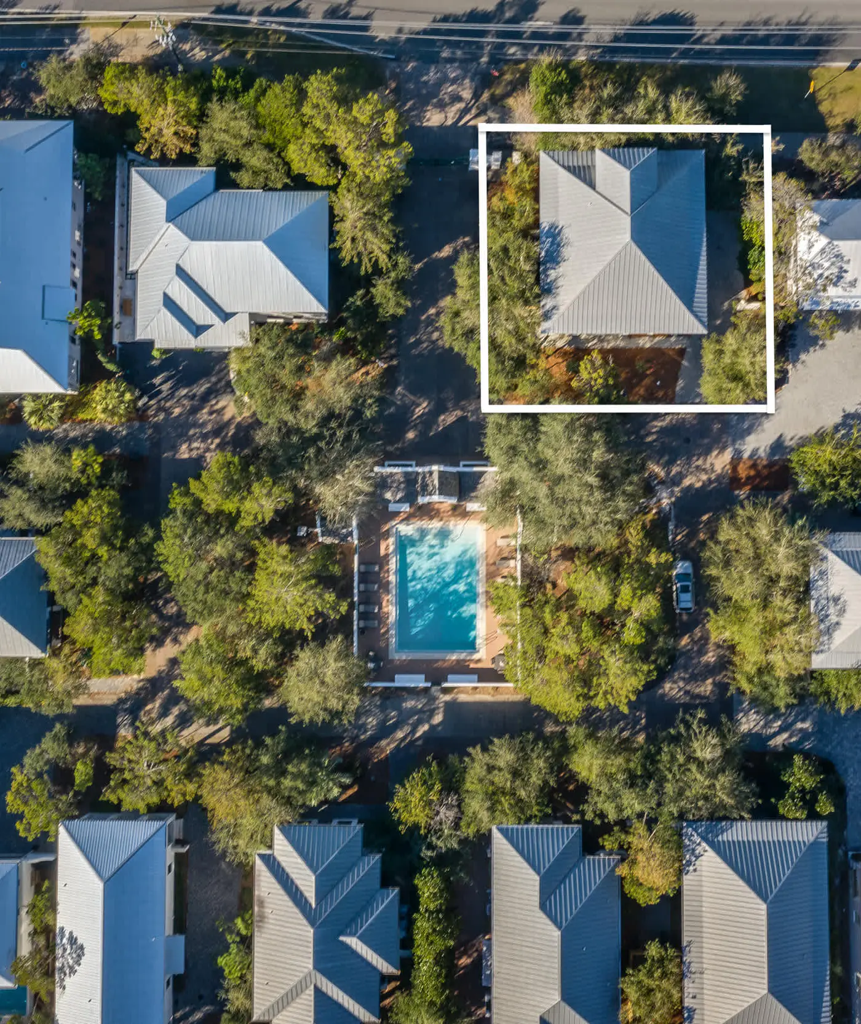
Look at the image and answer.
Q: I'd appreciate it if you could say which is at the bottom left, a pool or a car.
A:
pool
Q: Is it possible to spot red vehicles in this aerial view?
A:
No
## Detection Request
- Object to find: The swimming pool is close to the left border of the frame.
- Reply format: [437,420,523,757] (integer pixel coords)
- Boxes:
[0,988,26,1016]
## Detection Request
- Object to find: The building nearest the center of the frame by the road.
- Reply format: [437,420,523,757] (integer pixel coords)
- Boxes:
[374,463,495,506]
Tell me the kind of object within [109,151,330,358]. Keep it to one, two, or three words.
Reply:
house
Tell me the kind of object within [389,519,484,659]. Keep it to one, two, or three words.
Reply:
swimming pool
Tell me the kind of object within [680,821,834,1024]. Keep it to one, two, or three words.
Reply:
house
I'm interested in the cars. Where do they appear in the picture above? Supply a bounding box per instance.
[670,561,695,613]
